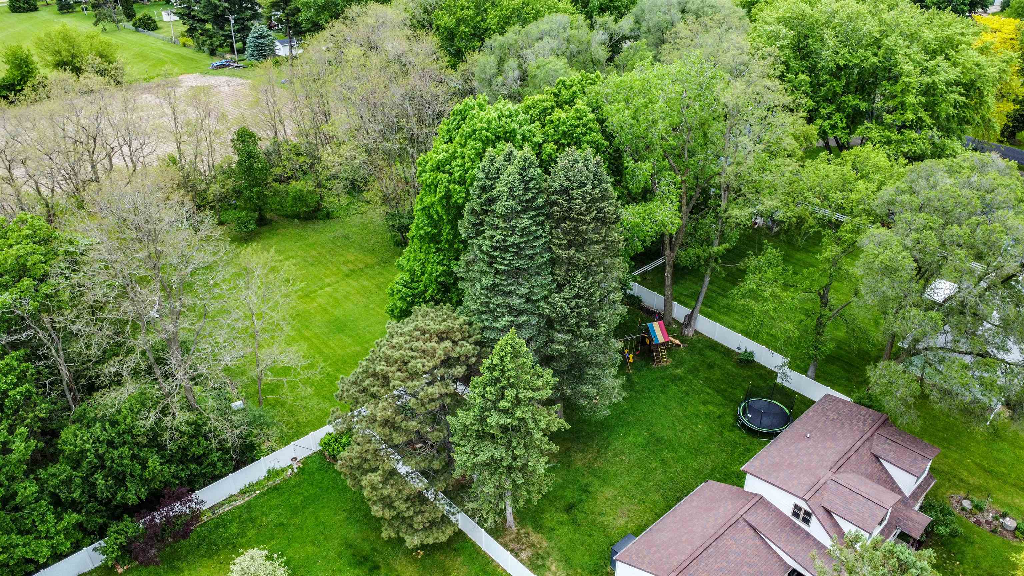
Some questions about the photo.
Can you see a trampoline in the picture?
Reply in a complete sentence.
Yes, a trampoline is visible in the scene.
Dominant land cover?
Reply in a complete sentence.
The bulk of the photo consists of trees.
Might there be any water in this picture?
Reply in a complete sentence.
No, there is no water in the image.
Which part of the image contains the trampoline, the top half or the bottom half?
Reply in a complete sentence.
Seen from above, the trampoline lies in the bottom half of the view.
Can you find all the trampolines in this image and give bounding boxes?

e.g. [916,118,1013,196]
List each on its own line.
[735,382,795,439]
